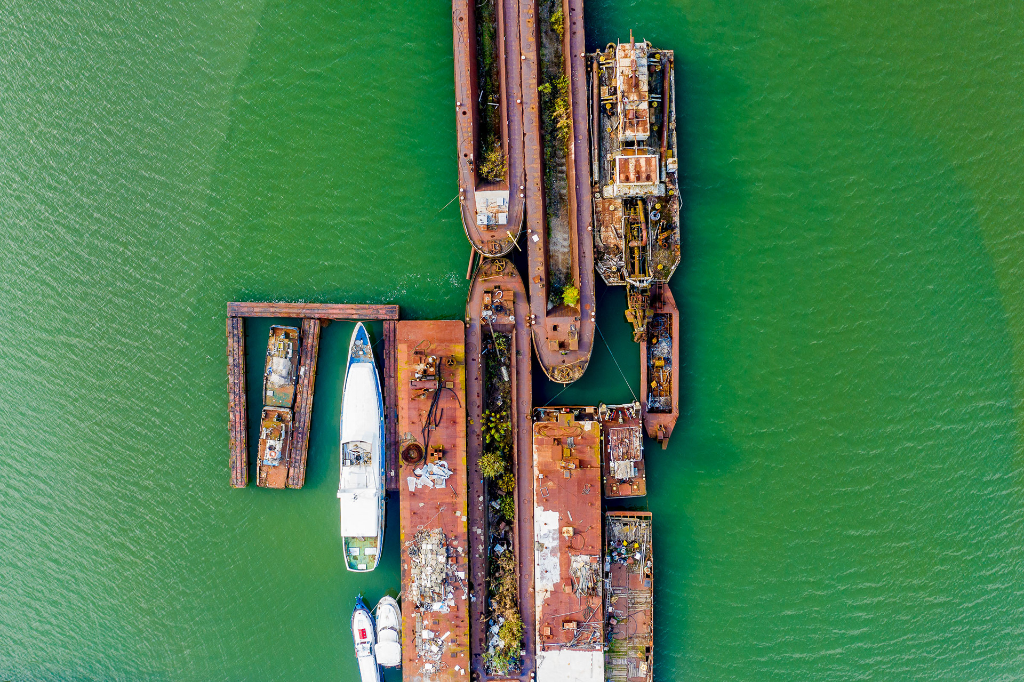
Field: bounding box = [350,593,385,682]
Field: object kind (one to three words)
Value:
boat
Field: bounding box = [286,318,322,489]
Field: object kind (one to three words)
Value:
pier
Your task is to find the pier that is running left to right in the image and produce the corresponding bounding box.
[227,302,401,320]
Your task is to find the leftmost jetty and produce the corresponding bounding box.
[225,318,251,488]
